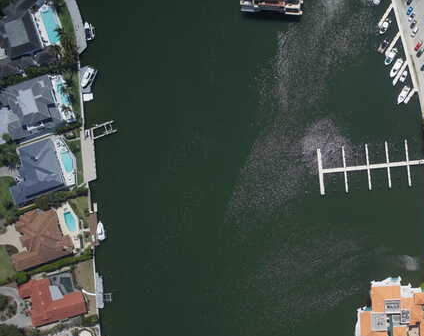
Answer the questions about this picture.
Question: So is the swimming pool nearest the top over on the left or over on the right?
left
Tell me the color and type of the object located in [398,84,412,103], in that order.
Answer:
white boat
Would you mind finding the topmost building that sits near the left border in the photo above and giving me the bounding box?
[0,0,63,80]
